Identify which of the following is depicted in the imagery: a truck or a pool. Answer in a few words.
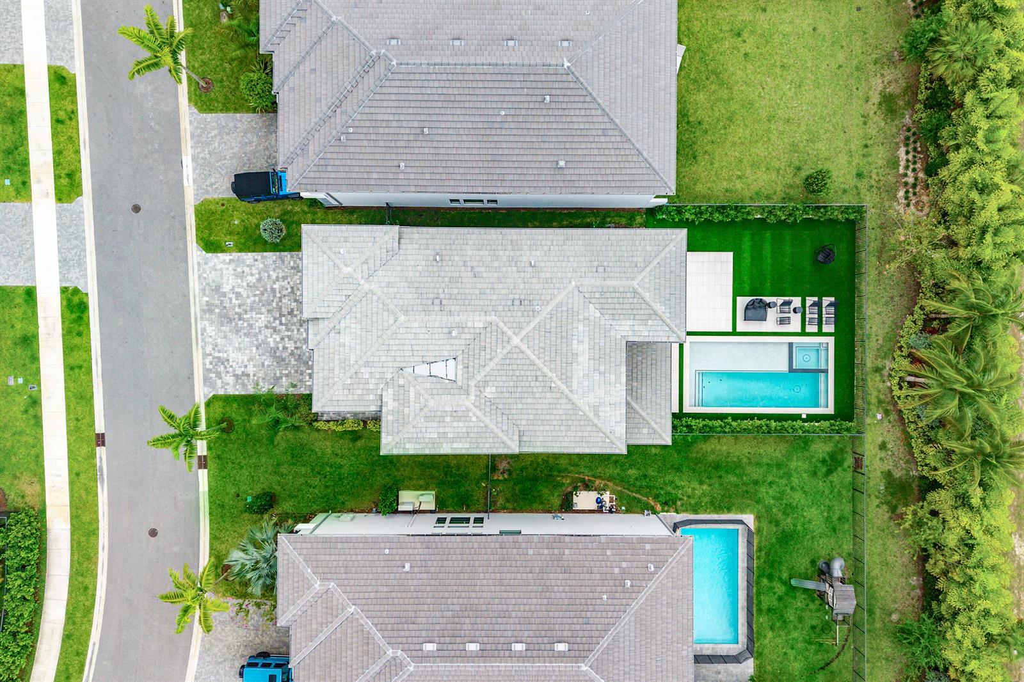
pool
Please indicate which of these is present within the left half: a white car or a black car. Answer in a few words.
black car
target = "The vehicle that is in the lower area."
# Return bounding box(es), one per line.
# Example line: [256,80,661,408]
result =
[236,648,298,682]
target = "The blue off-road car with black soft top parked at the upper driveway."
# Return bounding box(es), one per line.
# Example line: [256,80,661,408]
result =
[229,166,303,204]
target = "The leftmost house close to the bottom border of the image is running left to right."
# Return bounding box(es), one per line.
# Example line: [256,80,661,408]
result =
[275,511,695,682]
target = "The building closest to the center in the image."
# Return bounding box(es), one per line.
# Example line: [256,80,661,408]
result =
[299,222,688,457]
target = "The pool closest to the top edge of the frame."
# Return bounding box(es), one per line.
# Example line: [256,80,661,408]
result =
[684,337,835,413]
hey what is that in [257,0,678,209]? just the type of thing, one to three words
house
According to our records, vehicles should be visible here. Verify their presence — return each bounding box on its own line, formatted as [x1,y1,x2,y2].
[236,648,298,682]
[229,166,303,204]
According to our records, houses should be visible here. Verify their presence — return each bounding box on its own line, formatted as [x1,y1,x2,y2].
[299,222,688,457]
[275,511,695,682]
[257,0,678,209]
